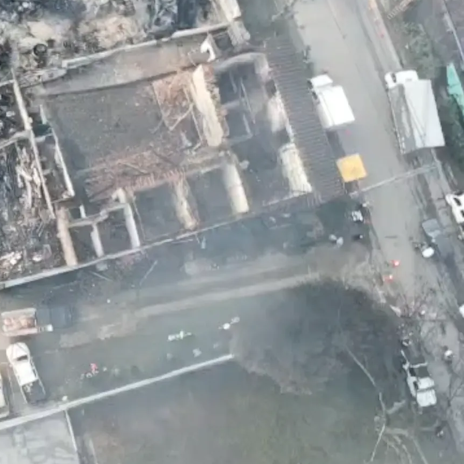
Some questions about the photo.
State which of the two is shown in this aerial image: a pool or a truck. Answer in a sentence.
This aerial view contains a truck.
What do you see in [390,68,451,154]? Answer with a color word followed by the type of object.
white truck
